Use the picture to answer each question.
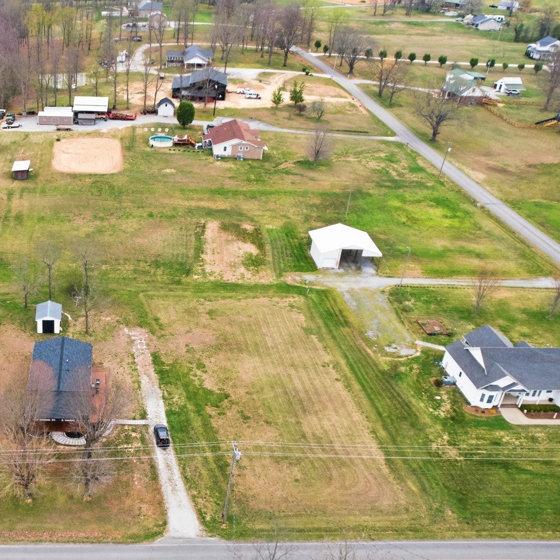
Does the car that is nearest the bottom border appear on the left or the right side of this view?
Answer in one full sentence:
You can find the car that is nearest the bottom border on the left side of the picture.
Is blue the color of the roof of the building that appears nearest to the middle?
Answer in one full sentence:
No, the roof of the building that appears nearest to the middle is white.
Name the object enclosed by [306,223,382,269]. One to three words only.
building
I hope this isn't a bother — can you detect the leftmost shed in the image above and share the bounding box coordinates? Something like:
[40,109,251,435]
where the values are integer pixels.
[10,160,29,179]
